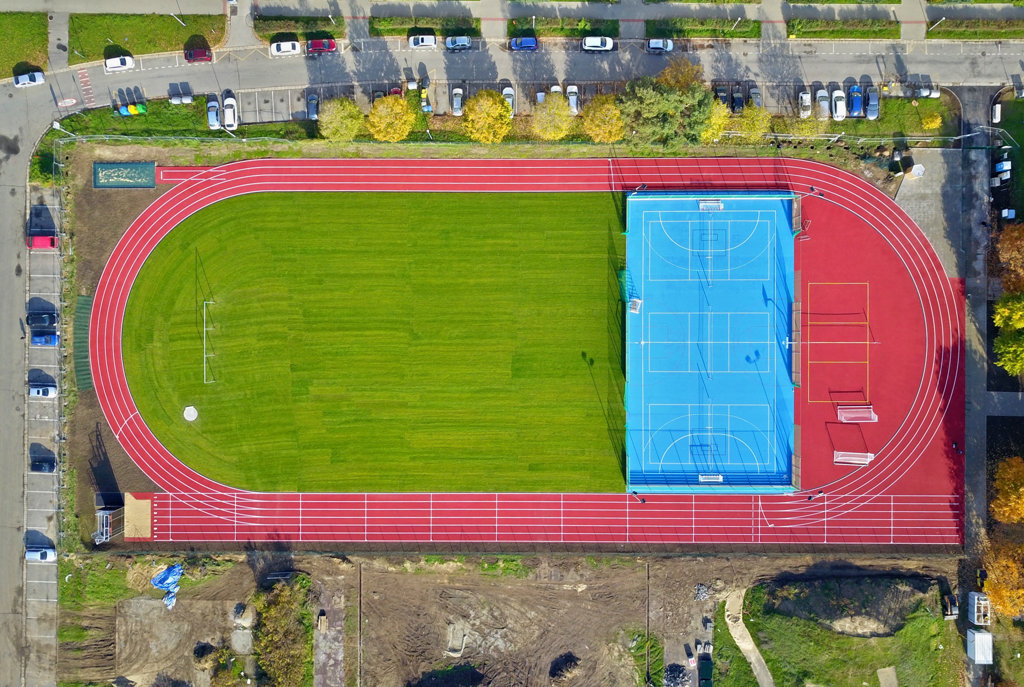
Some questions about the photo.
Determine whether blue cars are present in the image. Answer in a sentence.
Yes, the image includes a blue car.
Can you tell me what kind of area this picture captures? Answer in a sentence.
It's a sports ground.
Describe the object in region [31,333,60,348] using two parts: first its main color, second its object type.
blue car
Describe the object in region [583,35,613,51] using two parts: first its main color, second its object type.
white car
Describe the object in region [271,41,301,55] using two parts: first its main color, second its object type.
white car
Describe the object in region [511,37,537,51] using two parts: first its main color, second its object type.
blue car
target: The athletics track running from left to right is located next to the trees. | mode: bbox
[88,157,965,546]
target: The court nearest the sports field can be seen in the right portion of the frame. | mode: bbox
[626,190,795,494]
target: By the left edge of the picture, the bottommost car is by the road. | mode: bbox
[24,547,56,564]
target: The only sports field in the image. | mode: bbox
[123,193,627,494]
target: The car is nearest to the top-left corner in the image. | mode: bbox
[12,70,46,89]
